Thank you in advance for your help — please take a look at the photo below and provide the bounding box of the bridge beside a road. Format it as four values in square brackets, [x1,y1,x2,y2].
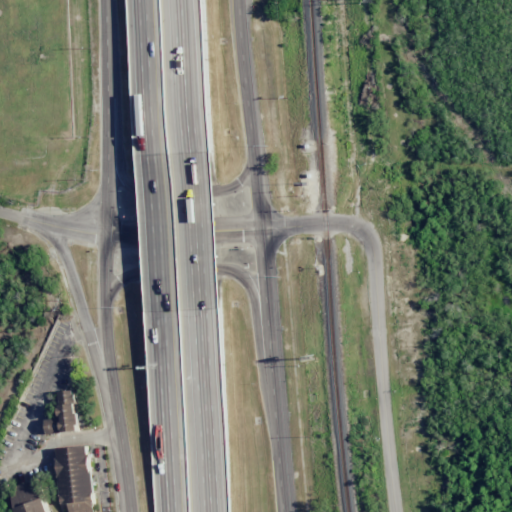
[125,0,232,512]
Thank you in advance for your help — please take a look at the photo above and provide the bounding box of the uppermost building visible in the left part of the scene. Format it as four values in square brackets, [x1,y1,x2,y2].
[43,391,84,434]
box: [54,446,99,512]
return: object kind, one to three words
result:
building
